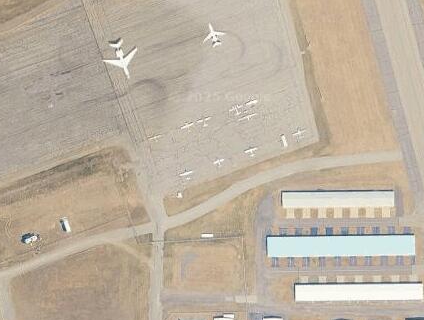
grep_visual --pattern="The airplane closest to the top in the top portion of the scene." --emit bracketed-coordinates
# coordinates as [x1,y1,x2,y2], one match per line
[203,24,226,45]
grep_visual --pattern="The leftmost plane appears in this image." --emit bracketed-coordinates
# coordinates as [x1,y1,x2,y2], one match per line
[104,39,137,76]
